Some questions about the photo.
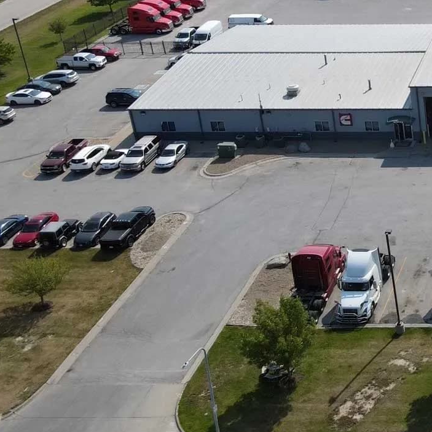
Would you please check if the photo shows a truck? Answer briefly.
Yes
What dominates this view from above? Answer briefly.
paved ground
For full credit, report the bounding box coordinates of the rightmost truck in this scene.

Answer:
[332,240,390,322]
